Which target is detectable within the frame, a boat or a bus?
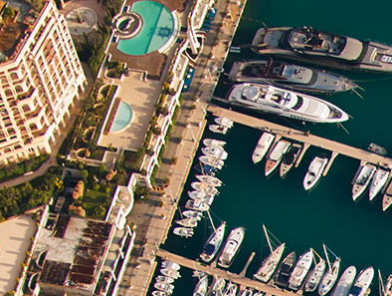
boat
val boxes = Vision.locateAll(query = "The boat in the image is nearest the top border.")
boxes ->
[250,30,392,73]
